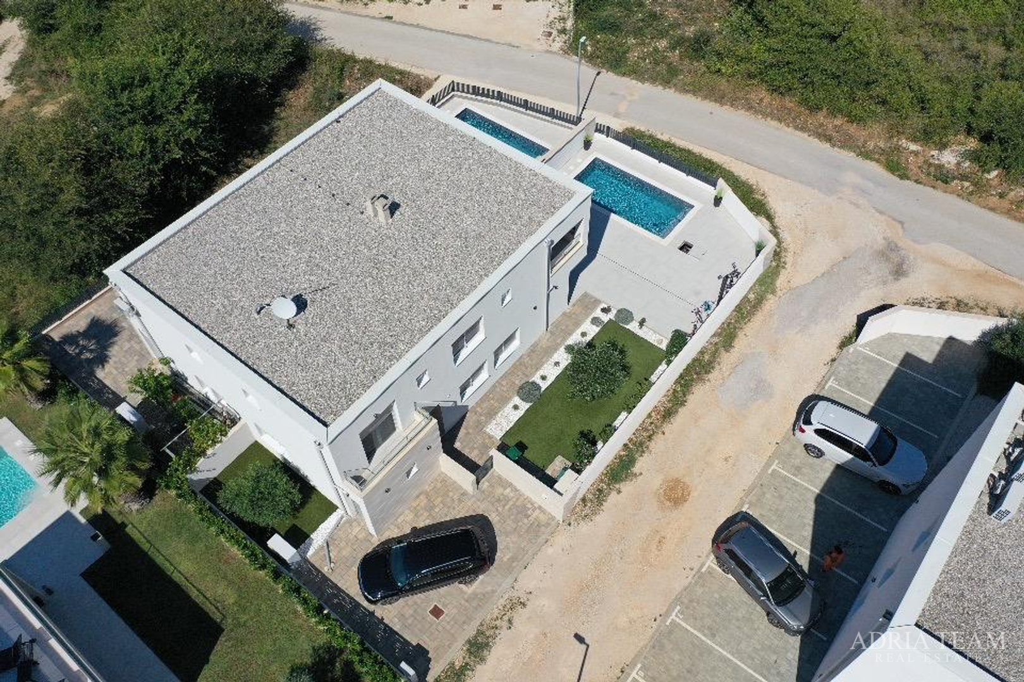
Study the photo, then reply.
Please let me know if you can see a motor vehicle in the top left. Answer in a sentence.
No, no motor vehicle appears in the top left.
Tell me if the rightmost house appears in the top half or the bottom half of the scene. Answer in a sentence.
You can find the rightmost house in the bottom half.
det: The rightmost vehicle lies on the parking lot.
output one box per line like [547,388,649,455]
[797,402,927,494]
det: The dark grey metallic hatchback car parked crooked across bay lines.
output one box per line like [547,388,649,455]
[711,518,829,637]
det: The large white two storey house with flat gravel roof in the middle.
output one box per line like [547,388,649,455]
[102,78,596,536]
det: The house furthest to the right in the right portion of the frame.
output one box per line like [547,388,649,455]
[811,381,1024,682]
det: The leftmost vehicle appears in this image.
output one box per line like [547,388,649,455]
[356,522,490,604]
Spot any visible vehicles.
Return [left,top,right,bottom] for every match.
[356,522,490,604]
[797,402,927,494]
[711,518,829,637]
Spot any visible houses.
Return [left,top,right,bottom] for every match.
[811,381,1024,682]
[102,78,596,536]
[0,569,103,682]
